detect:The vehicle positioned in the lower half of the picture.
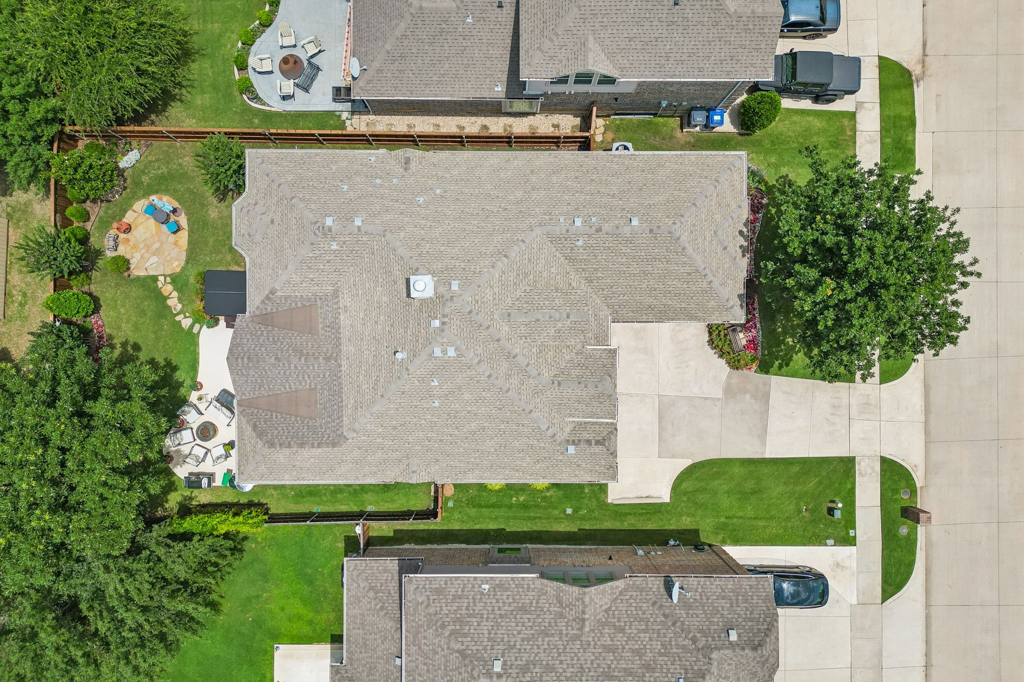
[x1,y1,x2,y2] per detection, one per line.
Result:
[743,565,829,609]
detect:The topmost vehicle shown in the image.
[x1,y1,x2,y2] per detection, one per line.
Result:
[781,0,841,39]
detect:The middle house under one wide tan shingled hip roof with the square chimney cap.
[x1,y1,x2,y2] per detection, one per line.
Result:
[227,148,752,485]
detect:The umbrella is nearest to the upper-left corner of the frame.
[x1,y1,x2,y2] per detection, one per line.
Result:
[152,199,184,218]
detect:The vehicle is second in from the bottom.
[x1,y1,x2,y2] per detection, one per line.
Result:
[744,50,861,101]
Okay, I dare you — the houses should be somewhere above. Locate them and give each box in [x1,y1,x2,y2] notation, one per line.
[227,148,752,485]
[349,0,784,114]
[328,543,781,682]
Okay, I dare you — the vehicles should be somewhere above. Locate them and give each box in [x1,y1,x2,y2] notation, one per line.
[743,565,829,609]
[744,50,861,101]
[781,0,841,39]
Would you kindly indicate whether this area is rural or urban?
urban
